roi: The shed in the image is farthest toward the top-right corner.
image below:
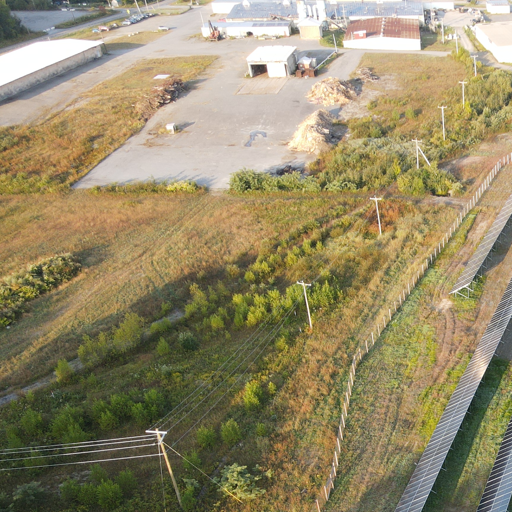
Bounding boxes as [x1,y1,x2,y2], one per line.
[483,0,510,14]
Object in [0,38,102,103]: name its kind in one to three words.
building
